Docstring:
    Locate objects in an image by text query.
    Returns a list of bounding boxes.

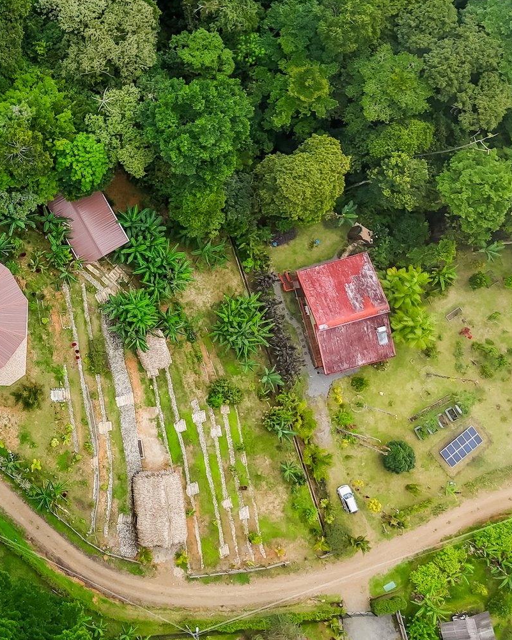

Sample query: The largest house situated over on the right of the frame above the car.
[293,252,398,375]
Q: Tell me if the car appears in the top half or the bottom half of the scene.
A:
bottom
